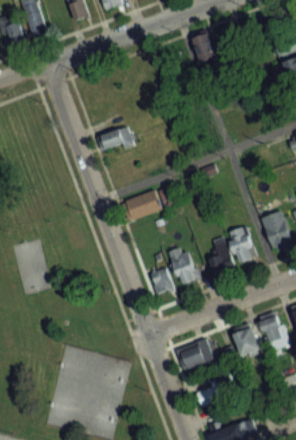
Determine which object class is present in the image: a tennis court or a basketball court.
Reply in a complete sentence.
Of the two, only a basketball court appears.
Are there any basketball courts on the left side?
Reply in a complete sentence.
Yes, a basketball court appears on the left side.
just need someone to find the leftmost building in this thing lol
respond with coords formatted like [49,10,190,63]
[0,15,24,41]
